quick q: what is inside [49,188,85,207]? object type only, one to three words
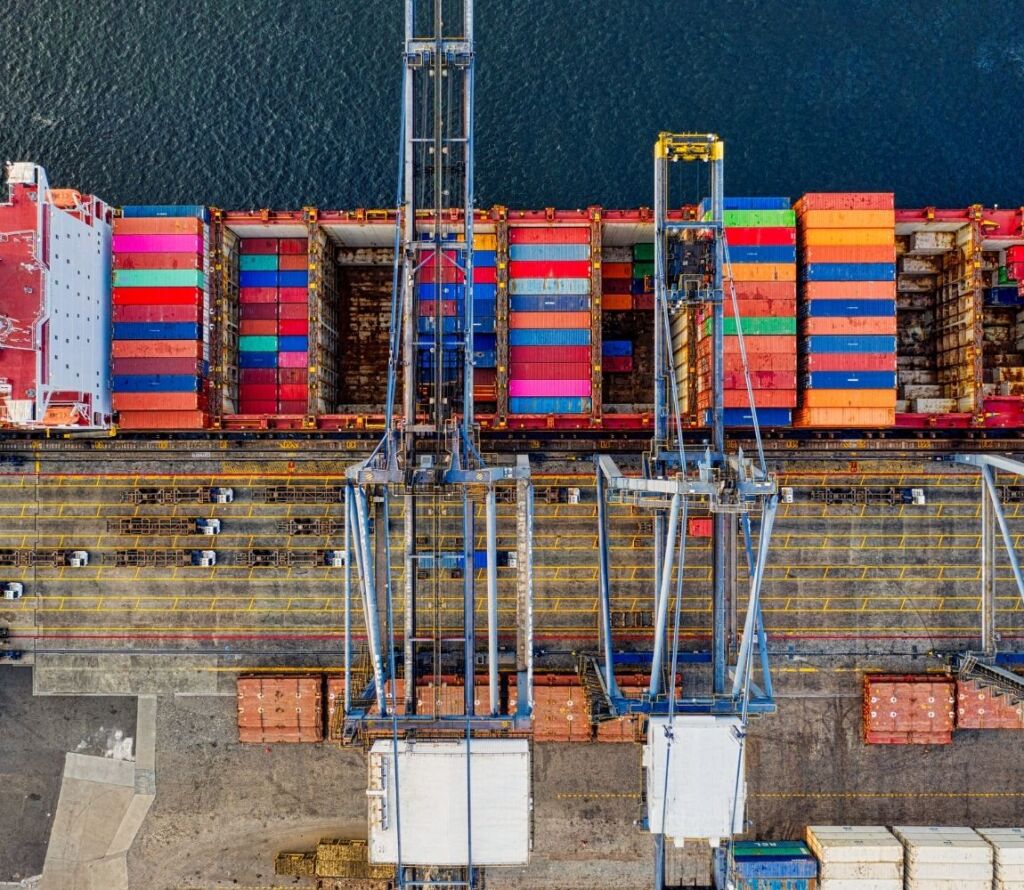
boat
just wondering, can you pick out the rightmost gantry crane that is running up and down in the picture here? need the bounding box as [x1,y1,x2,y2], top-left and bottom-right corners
[909,454,1024,713]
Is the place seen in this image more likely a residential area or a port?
port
